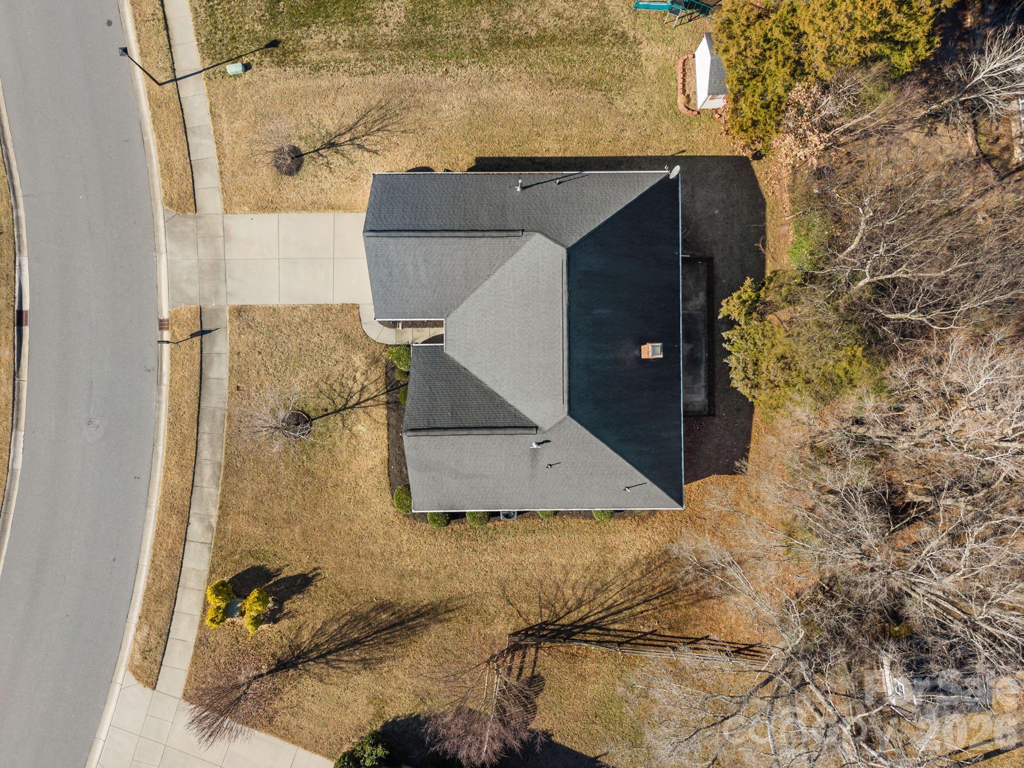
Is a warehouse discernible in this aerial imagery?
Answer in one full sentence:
No, this view has no warehouse in it.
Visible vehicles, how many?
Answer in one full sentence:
No vehicles are visible.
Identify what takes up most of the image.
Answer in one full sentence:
Most of the picture is covered by grass.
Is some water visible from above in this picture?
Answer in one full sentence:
No, no water is visible.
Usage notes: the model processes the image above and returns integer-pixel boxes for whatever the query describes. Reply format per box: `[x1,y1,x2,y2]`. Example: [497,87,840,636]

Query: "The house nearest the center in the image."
[362,172,682,513]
